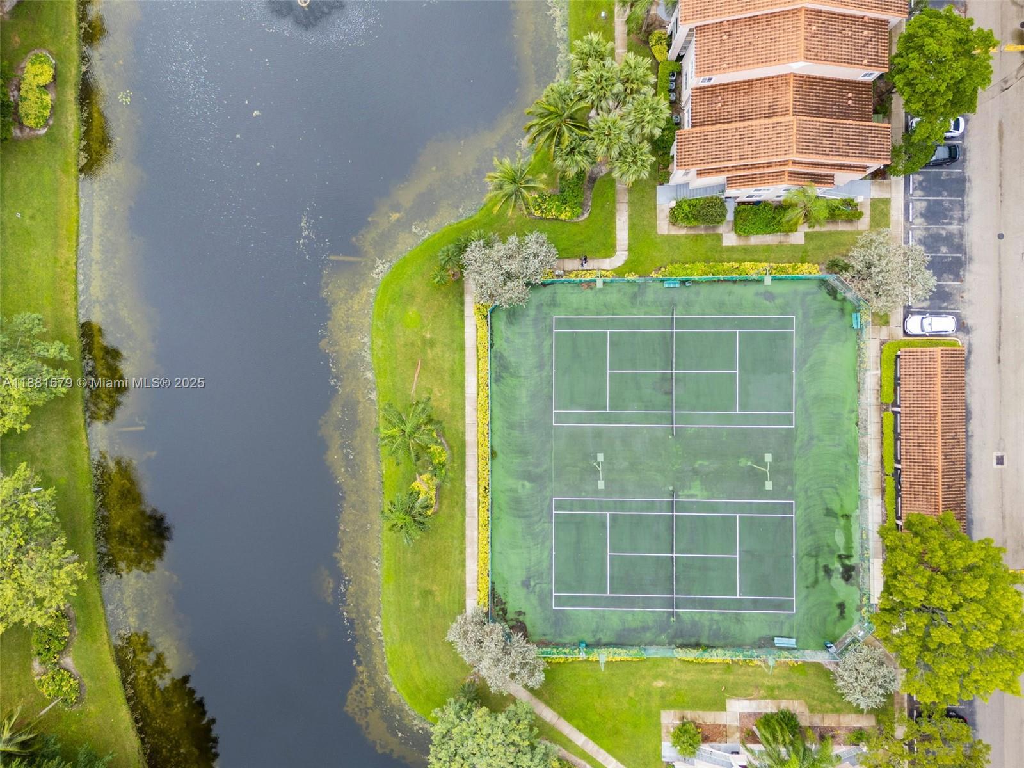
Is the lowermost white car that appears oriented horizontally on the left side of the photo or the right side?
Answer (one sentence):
You can find the lowermost white car that appears oriented horizontally on the right side of the picture.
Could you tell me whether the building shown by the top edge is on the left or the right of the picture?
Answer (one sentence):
The building shown by the top edge sits on the right side.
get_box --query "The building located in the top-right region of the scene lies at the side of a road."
[669,0,909,206]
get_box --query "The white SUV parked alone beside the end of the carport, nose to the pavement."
[903,312,962,337]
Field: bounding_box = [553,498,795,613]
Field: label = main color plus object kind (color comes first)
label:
green tennis court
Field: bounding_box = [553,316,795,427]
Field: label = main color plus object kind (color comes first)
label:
green tennis court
